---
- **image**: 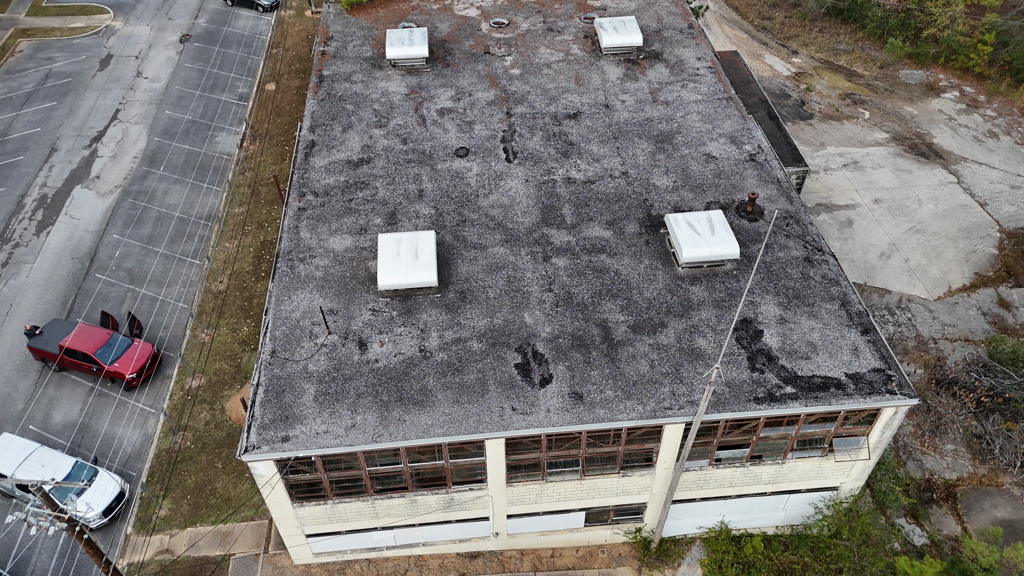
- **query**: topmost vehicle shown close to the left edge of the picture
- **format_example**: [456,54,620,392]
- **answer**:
[27,309,168,392]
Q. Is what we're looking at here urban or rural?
urban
